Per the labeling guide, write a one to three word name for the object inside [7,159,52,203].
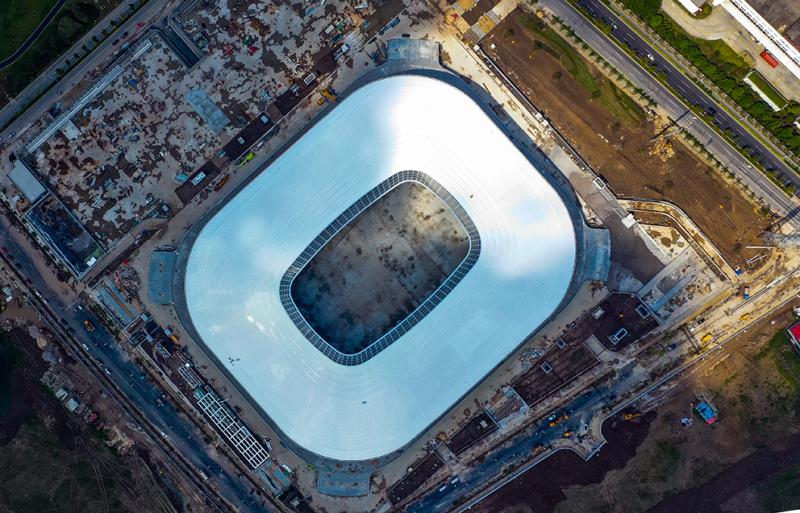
building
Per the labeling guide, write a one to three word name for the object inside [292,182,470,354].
sports field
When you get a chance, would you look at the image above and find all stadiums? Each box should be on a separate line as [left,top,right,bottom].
[150,40,609,494]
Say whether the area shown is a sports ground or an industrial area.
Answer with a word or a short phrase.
sports ground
